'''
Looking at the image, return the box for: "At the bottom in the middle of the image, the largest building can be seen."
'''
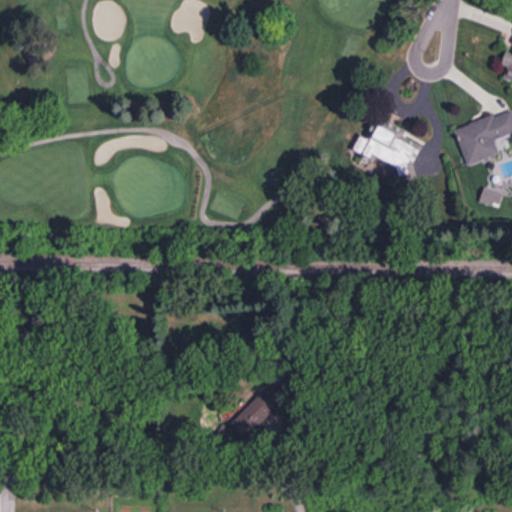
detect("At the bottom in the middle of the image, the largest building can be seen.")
[234,394,274,434]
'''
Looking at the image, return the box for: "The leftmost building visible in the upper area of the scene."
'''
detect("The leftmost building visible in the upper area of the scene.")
[354,126,422,173]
